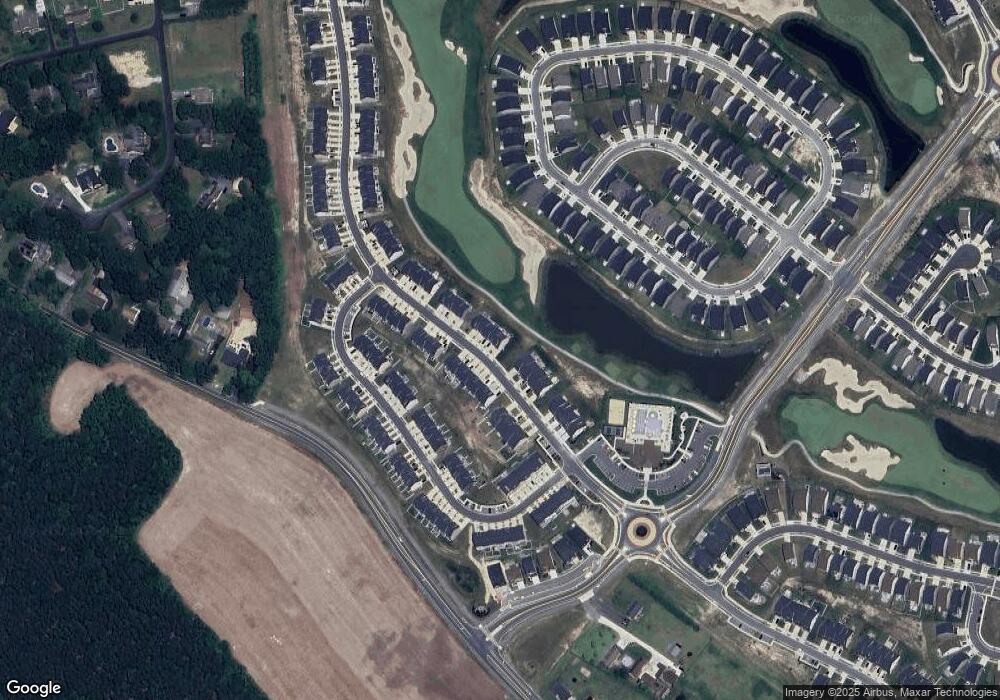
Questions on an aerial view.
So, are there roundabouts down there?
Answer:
Yes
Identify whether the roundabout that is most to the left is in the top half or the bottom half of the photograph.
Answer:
bottom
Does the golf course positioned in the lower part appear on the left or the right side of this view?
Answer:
right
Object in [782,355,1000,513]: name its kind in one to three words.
golf course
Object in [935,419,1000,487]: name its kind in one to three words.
pond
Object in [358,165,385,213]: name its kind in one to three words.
house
